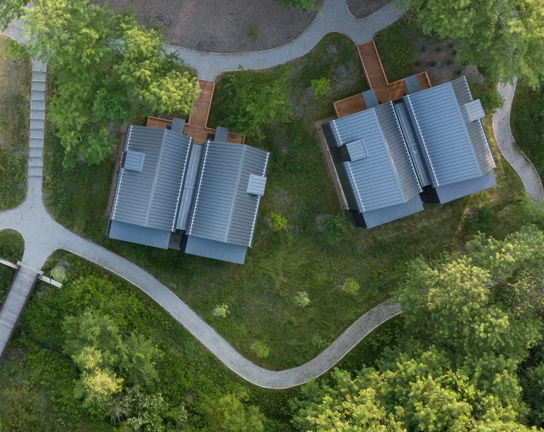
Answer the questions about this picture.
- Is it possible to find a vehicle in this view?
No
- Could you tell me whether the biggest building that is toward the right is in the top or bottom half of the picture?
top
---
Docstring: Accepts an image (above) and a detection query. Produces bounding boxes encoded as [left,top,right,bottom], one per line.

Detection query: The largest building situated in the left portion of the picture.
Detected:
[107,118,270,262]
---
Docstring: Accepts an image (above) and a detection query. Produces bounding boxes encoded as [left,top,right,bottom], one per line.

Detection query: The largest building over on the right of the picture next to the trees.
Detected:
[316,74,498,228]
